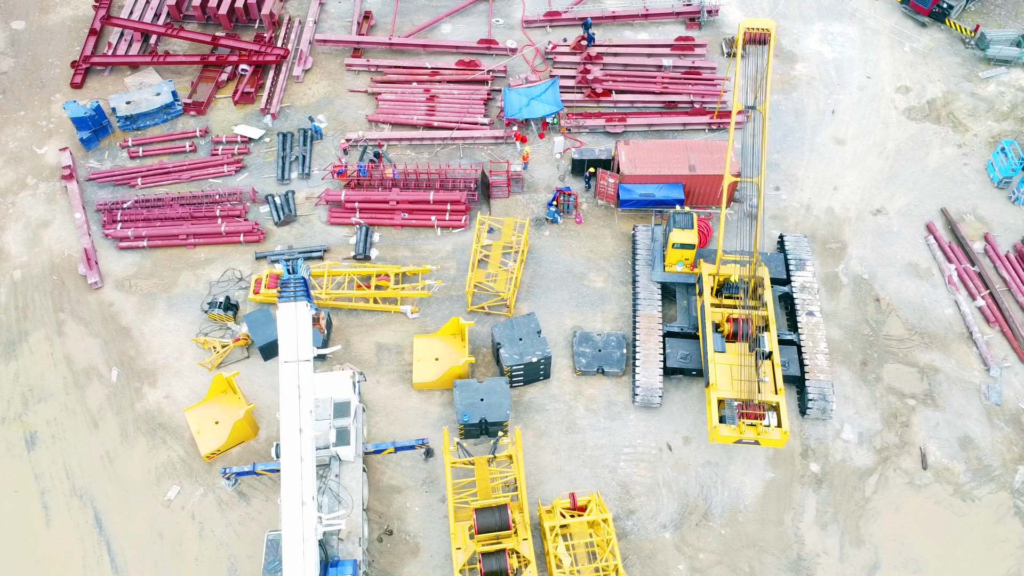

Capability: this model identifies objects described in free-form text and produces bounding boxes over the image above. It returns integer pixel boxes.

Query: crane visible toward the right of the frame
[630,17,831,449]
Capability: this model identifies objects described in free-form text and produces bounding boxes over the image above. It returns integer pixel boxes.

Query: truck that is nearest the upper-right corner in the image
[894,0,982,47]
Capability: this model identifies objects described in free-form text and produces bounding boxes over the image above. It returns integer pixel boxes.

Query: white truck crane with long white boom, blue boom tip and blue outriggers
[218,259,435,576]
